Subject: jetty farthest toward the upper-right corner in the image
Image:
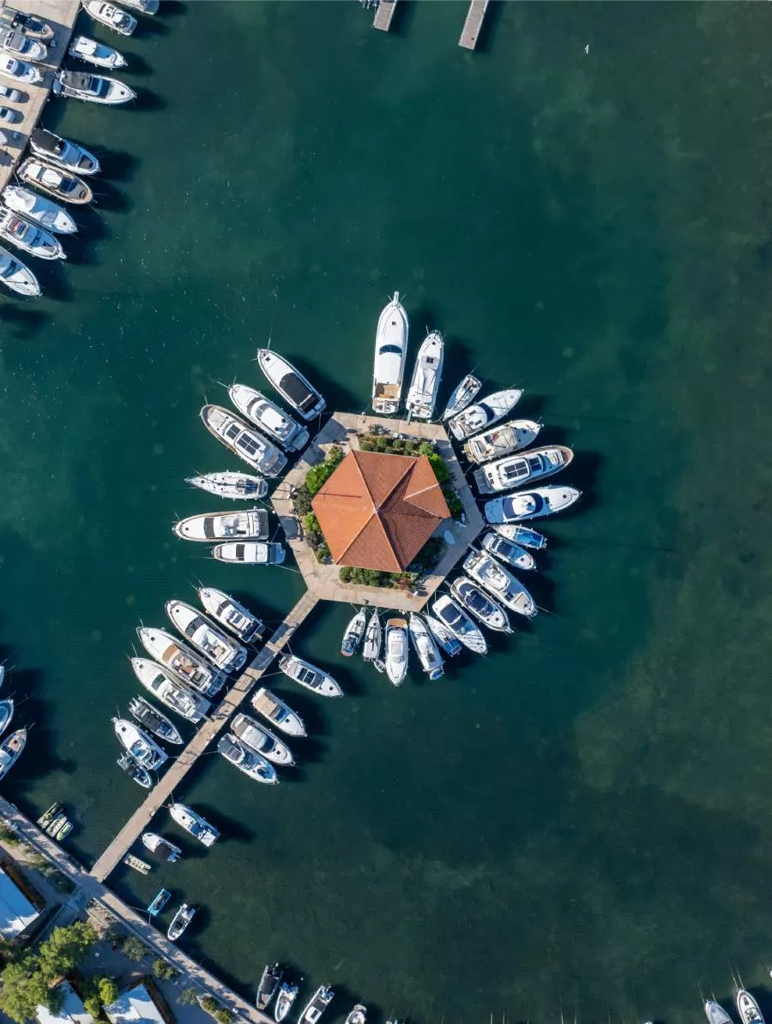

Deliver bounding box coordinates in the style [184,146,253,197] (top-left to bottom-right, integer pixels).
[458,0,493,53]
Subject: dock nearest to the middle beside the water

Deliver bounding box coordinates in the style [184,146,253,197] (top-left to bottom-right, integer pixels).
[271,412,484,611]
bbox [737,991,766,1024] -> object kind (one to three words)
boat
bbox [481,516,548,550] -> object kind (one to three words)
boat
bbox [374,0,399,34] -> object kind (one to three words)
pier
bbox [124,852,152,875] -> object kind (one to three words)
pier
